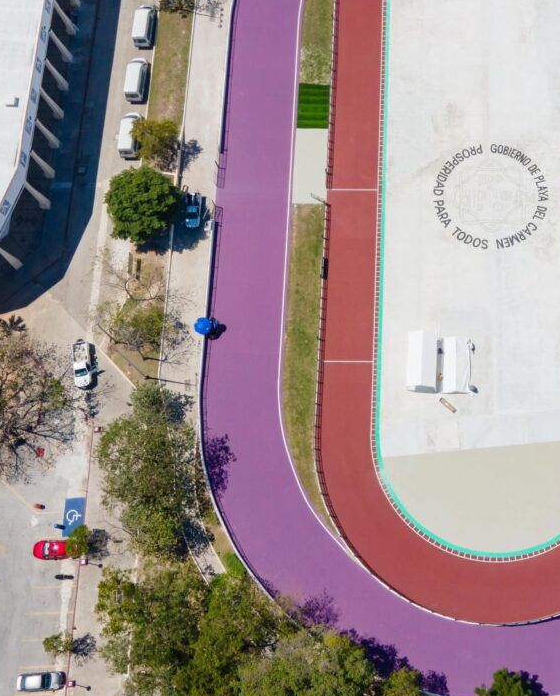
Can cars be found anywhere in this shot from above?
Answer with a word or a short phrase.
Yes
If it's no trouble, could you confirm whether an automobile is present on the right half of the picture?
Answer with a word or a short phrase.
No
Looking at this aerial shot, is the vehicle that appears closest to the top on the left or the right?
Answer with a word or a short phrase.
left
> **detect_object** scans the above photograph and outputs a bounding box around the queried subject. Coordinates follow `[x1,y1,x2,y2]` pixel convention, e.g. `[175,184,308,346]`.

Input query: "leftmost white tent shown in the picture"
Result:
[406,332,439,389]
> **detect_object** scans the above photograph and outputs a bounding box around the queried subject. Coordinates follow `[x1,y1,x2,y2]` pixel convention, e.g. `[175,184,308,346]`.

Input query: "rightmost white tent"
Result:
[443,337,474,394]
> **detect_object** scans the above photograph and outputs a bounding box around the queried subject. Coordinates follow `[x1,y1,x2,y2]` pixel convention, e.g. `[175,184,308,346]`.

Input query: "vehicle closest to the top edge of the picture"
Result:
[130,7,152,47]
